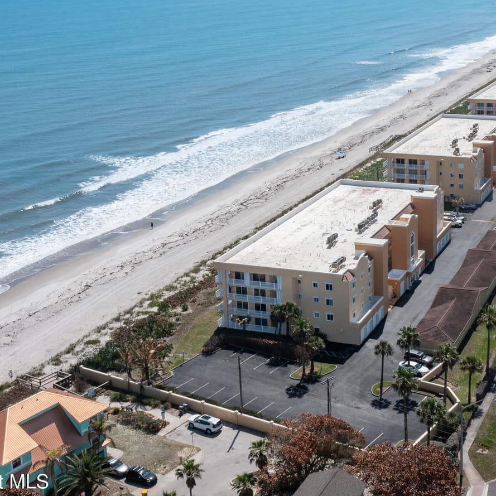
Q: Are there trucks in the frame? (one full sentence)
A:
No, no truck is visible in the view.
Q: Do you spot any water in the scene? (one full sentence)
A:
Yes, some water is visible.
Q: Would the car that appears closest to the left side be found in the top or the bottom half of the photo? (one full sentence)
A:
You can find the car that appears closest to the left side in the bottom half.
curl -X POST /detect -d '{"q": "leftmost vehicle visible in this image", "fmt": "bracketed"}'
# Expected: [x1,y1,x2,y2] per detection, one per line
[105,447,128,475]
